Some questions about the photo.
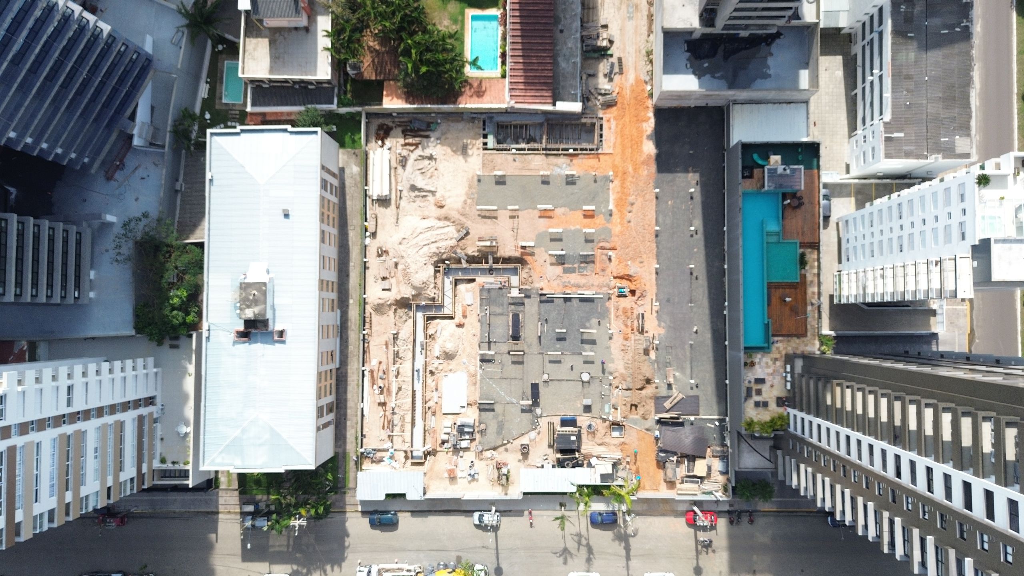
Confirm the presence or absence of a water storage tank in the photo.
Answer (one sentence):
Yes, the image includes a water storage tank.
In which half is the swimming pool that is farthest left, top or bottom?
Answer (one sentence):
You can find the swimming pool that is farthest left in the top half.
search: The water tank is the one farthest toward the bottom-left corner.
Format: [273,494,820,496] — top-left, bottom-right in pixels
[239,282,273,319]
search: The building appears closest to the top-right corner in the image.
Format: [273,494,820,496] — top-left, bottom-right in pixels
[819,0,979,177]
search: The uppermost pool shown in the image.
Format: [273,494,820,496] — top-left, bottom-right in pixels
[464,8,501,77]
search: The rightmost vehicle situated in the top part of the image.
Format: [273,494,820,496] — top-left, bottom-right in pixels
[820,189,836,218]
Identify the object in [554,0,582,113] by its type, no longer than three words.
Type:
building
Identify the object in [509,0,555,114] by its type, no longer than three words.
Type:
building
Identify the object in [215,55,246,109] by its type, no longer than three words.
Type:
swimming pool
